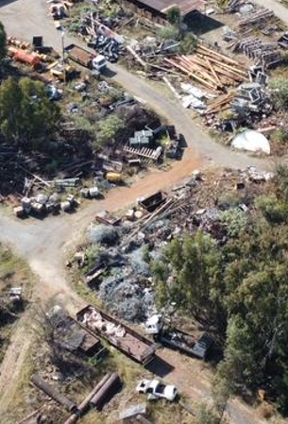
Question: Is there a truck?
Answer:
Yes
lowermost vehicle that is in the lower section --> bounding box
[136,376,179,399]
